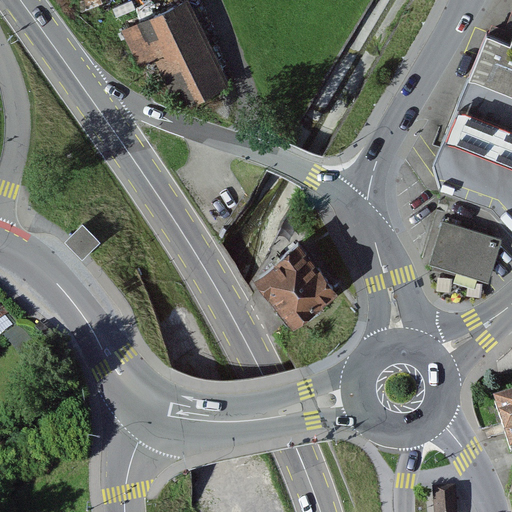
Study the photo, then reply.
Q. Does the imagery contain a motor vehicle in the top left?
Yes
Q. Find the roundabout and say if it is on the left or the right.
right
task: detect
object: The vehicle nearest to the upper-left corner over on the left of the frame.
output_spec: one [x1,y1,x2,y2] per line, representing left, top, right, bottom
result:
[30,8,48,29]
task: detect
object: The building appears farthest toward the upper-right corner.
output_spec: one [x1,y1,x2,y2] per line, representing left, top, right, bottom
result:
[470,34,512,98]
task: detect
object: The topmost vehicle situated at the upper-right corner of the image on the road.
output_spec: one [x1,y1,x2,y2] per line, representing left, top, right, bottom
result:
[457,13,472,33]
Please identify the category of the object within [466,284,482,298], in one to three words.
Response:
umbrella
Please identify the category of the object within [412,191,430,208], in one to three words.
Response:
car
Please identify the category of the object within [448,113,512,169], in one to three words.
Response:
building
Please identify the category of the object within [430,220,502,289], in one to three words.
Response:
building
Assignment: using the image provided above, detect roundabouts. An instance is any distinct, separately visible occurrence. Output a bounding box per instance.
[340,327,462,449]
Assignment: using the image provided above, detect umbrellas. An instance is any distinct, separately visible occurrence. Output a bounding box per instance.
[452,293,461,303]
[466,284,482,298]
[436,278,452,292]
